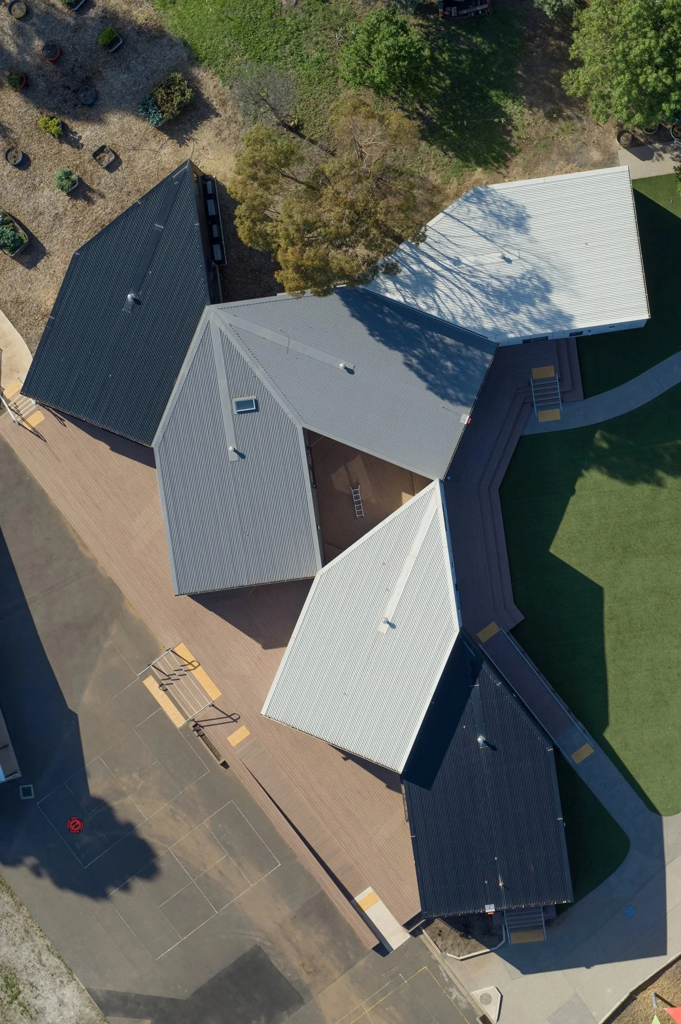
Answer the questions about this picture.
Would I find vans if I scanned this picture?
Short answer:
No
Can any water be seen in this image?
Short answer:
No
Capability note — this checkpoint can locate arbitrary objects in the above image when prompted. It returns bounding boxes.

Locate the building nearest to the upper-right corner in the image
[360,165,653,349]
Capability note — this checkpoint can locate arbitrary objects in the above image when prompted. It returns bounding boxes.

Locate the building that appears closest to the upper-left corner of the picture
[22,159,216,449]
